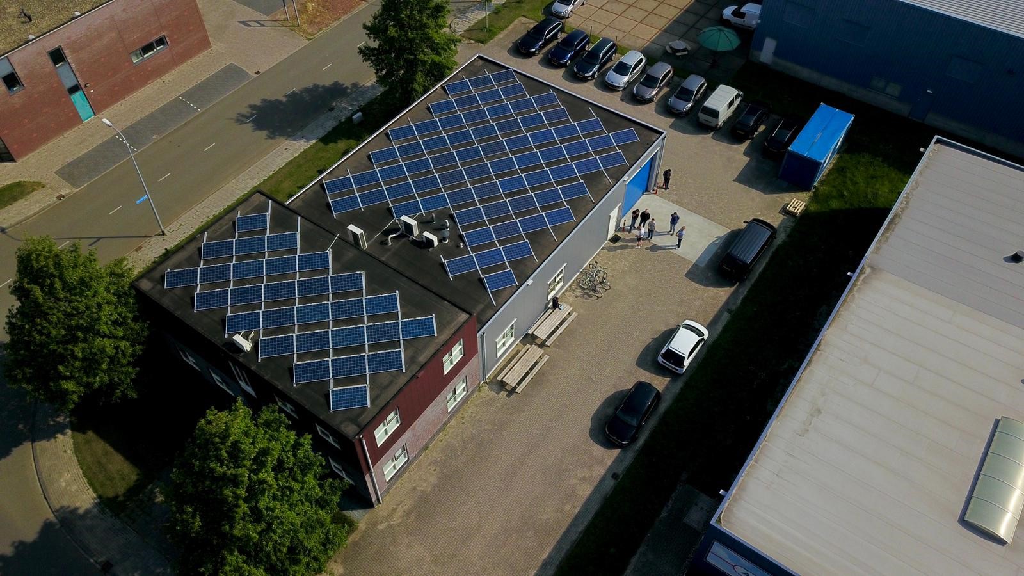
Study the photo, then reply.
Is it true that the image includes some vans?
Yes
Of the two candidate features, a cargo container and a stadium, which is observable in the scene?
cargo container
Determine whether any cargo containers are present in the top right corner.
Yes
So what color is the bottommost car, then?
black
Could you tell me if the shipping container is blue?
Yes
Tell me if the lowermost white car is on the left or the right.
right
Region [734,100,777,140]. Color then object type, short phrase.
black car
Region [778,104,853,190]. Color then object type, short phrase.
blue shipping container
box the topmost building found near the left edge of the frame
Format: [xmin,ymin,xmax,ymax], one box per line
[0,0,212,168]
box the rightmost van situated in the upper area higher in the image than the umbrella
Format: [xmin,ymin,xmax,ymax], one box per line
[719,0,765,31]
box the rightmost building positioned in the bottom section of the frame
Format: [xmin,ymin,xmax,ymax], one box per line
[688,134,1024,576]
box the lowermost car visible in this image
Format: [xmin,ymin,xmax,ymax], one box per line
[603,376,665,447]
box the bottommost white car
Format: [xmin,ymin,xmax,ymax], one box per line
[659,317,709,371]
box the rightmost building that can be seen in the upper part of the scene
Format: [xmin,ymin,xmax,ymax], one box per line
[750,0,1024,158]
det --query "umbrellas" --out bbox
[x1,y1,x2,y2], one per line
[694,28,737,67]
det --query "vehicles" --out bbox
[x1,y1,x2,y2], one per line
[632,60,674,103]
[605,51,647,90]
[734,100,777,140]
[516,17,561,57]
[546,29,589,68]
[659,317,709,371]
[697,80,744,128]
[573,39,618,81]
[719,0,765,31]
[667,77,709,118]
[552,0,587,18]
[719,215,779,277]
[603,376,665,447]
[767,111,810,158]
